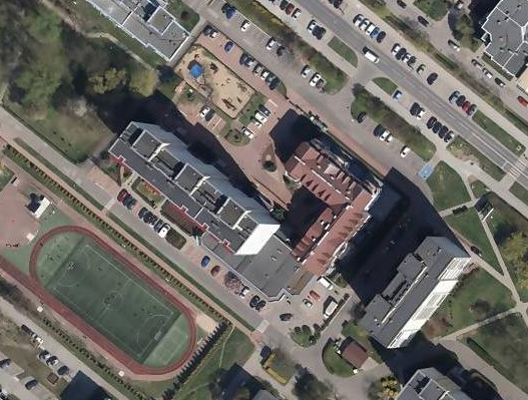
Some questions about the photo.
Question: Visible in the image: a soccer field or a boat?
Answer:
soccer field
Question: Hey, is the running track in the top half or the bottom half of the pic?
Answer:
bottom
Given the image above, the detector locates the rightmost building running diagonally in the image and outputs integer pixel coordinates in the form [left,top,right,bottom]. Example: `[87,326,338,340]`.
[359,231,468,346]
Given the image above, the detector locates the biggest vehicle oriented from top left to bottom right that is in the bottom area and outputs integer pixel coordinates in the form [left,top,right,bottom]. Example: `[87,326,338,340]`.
[316,275,334,292]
